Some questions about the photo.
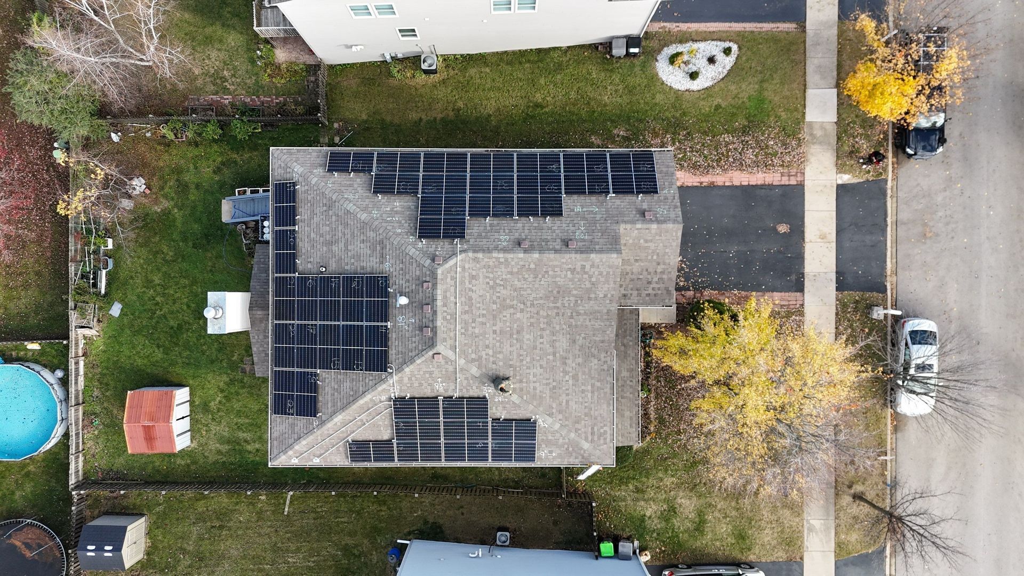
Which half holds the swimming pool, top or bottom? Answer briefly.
bottom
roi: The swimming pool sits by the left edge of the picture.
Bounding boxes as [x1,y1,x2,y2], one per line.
[0,353,81,461]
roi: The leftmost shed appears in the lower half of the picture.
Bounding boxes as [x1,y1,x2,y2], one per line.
[77,516,146,572]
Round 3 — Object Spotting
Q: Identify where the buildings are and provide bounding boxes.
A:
[207,144,684,470]
[394,539,651,576]
[261,0,662,65]
[123,388,190,454]
[77,516,146,572]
